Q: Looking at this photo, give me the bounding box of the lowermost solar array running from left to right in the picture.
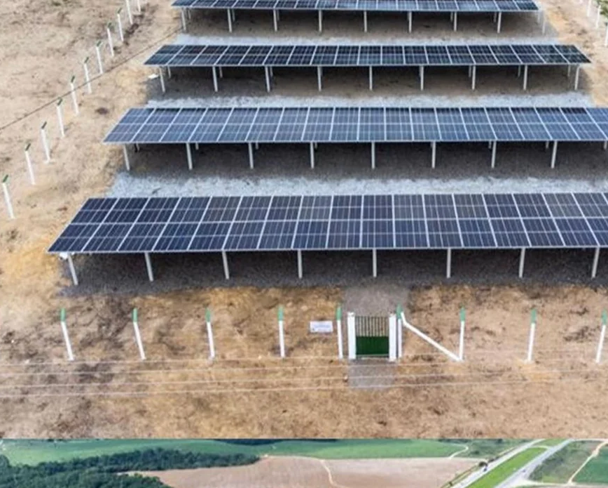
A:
[48,193,608,284]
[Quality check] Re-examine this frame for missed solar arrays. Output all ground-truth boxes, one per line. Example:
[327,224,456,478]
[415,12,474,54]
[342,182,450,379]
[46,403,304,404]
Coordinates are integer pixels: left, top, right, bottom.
[104,106,608,168]
[48,193,608,284]
[173,0,546,31]
[145,44,593,91]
